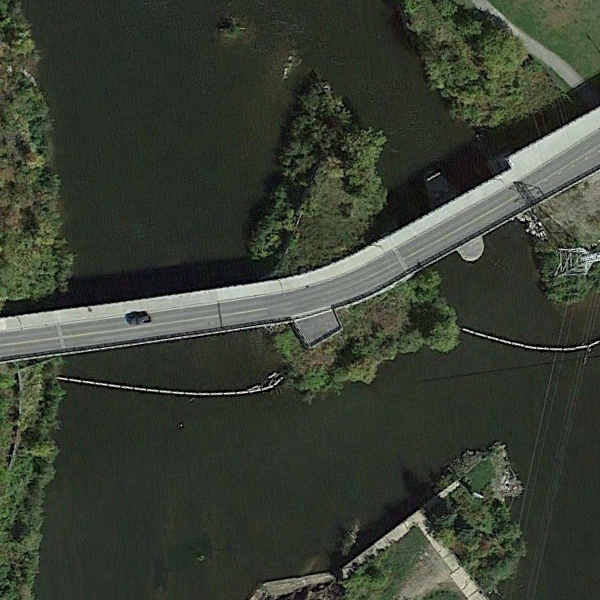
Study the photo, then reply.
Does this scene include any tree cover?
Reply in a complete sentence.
Yes, tree cover can be seen from above here.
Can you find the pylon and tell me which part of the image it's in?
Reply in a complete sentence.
Look in the right portion of the view to spot the pylon.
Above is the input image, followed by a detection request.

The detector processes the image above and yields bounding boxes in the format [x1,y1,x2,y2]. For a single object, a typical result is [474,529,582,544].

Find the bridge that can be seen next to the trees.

[0,107,600,363]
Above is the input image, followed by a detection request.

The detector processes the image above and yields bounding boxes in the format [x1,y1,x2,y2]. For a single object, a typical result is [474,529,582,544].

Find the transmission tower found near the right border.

[554,246,600,275]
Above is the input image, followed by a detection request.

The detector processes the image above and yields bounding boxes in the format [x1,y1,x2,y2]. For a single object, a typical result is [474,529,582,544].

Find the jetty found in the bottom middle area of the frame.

[250,571,335,600]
